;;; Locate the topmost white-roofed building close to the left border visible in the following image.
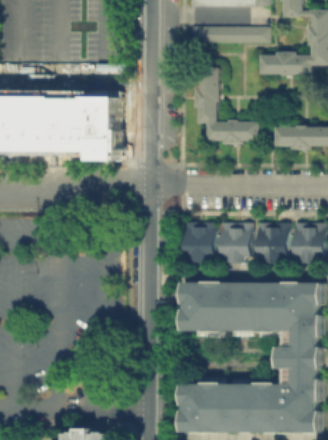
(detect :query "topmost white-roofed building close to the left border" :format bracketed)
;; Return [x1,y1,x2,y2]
[0,95,114,164]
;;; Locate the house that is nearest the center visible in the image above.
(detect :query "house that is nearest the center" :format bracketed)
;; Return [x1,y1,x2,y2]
[186,222,216,263]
